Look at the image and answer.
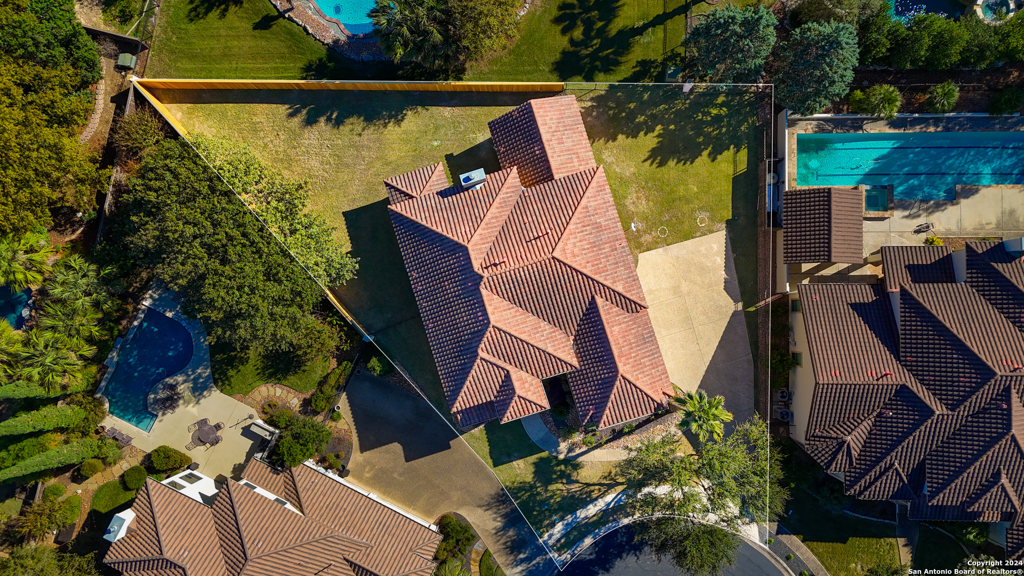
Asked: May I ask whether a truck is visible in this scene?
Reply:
No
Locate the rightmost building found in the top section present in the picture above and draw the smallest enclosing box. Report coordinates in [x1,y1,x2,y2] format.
[773,187,876,264]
